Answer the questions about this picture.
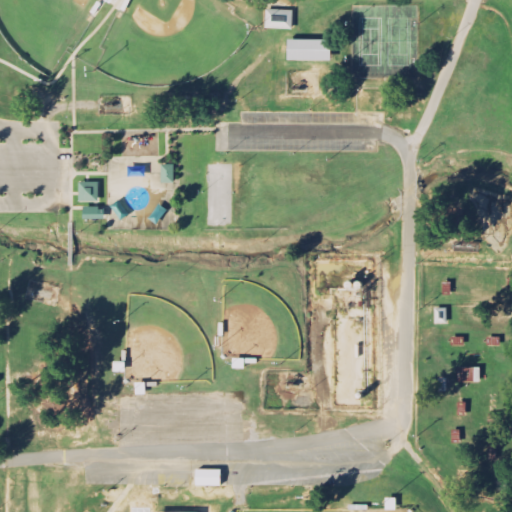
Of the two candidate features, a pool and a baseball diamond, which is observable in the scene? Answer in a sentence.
I can see a baseball diamond in this picture.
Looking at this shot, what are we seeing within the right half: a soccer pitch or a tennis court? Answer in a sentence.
The feature located within the right half is a tennis court.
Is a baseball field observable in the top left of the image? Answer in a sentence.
Yes, a baseball field shows up in the top left of the image.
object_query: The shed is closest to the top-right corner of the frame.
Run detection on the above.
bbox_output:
[287,38,330,60]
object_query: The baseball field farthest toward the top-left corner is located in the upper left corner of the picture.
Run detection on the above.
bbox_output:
[0,0,92,75]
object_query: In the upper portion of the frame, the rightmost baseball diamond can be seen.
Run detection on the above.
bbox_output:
[98,0,248,86]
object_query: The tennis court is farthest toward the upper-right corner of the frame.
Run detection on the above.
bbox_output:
[353,5,418,76]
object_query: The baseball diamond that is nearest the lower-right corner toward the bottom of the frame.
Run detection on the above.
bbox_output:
[222,280,300,361]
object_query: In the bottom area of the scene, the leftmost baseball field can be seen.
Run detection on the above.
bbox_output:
[126,294,212,382]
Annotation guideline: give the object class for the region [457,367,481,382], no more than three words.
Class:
house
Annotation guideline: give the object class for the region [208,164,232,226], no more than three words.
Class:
basketball court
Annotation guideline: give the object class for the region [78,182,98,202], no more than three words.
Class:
house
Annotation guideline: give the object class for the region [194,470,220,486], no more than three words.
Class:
barn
